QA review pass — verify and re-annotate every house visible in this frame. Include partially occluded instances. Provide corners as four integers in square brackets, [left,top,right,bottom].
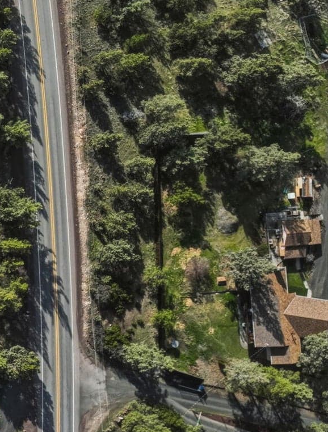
[270,219,322,260]
[241,267,328,365]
